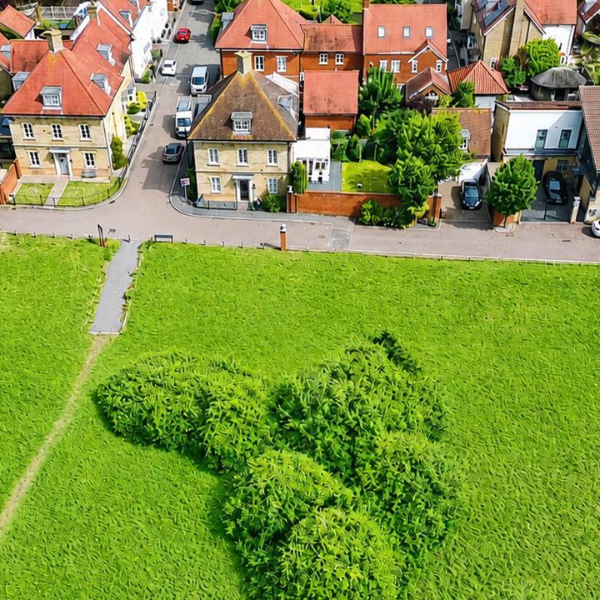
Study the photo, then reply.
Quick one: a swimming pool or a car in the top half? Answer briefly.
car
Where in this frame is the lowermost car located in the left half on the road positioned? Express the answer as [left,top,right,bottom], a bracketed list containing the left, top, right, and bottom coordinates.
[159,141,184,166]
